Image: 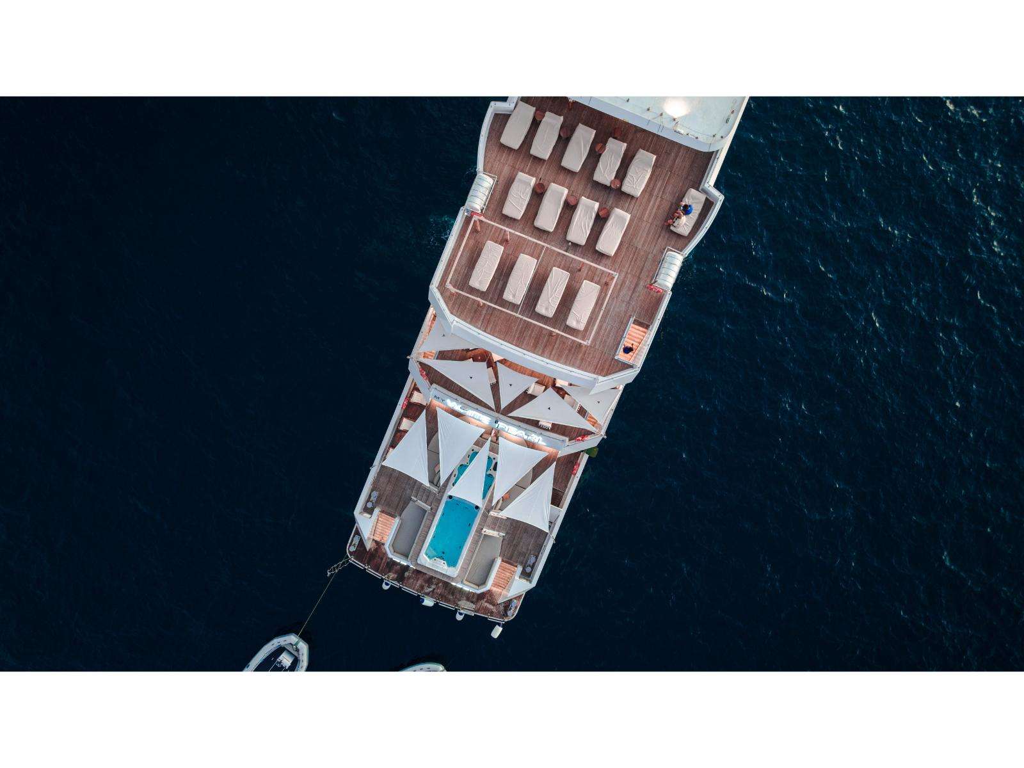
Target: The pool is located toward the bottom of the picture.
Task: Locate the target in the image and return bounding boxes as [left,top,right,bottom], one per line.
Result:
[418,445,498,576]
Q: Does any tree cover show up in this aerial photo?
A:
No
